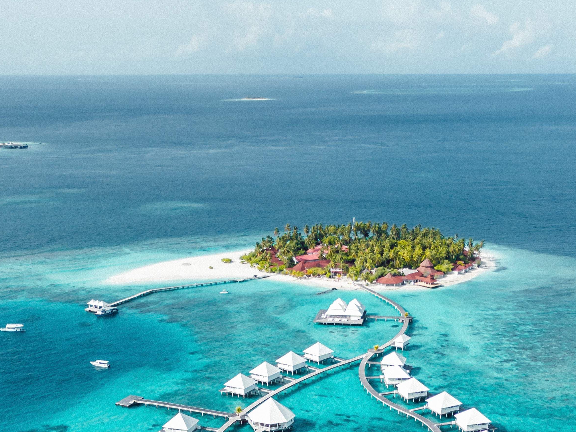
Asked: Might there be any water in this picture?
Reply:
Yes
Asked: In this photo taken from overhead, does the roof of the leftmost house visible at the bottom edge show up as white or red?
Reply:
white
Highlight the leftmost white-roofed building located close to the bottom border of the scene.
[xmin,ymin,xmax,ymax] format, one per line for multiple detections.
[155,412,204,432]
